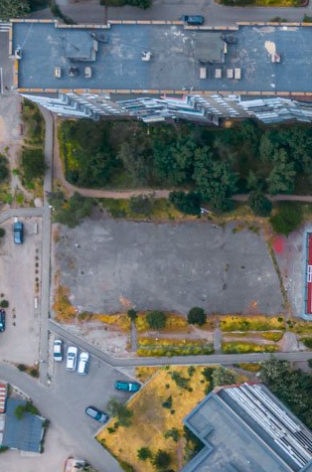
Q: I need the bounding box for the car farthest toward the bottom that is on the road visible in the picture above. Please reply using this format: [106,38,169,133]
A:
[86,407,107,422]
